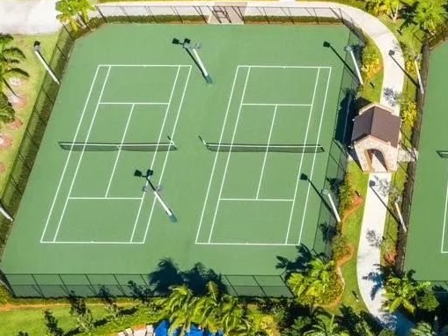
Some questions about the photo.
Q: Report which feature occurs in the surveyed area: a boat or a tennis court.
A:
tennis court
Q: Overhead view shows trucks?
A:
No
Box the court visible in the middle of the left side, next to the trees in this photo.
[0,22,223,297]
